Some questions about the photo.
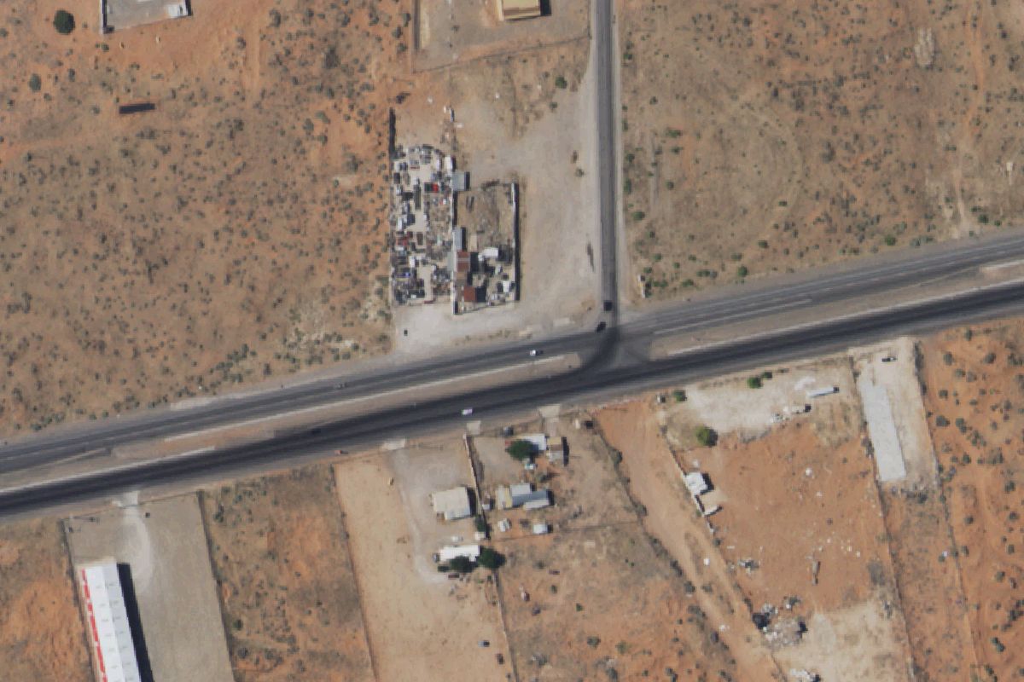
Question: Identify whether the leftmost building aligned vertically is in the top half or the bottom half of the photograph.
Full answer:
It is in the bottom half that the leftmost building aligned vertically appears.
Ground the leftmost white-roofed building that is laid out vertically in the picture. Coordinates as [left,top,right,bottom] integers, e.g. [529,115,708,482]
[82,560,142,682]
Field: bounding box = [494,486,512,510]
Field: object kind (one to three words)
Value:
shed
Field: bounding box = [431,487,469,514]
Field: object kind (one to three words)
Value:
building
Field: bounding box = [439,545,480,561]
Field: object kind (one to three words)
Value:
house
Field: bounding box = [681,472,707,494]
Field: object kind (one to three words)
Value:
house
